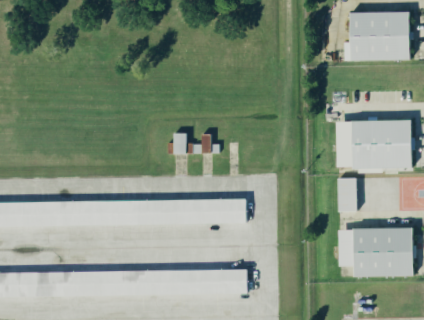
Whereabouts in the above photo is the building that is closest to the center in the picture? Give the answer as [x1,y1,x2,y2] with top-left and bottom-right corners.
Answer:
[194,134,221,154]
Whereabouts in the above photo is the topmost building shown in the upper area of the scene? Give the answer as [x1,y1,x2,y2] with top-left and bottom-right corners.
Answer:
[344,12,415,62]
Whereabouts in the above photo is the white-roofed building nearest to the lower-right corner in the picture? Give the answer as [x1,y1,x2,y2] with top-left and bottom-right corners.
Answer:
[338,228,417,277]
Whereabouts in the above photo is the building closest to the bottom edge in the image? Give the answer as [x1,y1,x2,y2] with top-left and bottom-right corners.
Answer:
[0,268,249,298]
